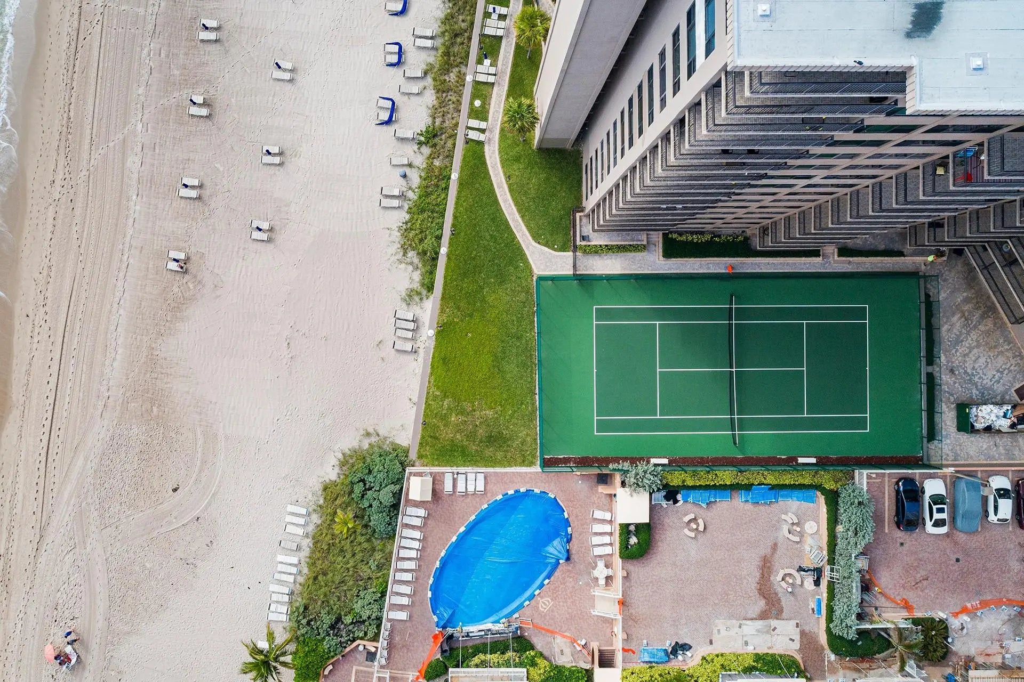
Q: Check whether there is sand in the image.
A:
Yes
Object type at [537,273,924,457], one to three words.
tennis court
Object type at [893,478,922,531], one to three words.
car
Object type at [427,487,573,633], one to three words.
swimming pool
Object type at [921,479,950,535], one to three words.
car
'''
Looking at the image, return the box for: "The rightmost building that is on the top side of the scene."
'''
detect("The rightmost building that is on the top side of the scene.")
[536,0,1024,326]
